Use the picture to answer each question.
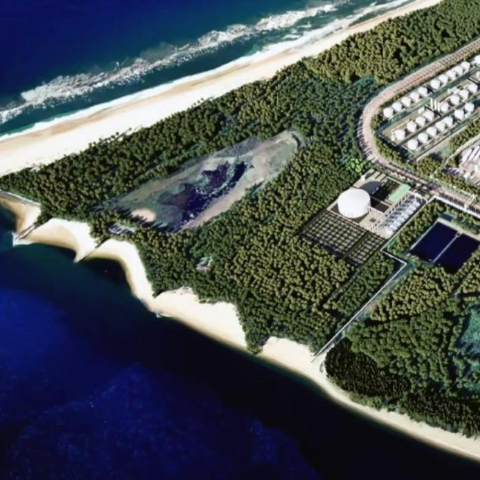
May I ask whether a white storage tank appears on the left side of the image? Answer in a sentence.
No, there is no white storage tank on the left side of the image.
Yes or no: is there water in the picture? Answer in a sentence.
Yes, water shows up in the scene.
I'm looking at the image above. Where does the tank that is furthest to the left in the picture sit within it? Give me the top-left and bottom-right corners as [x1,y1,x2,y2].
[337,188,371,219]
